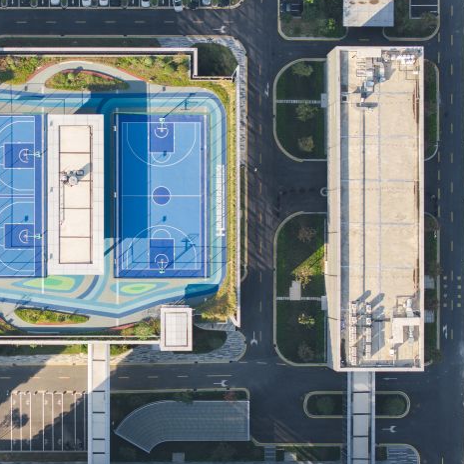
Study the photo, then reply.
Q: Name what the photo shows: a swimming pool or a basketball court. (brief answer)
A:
basketball court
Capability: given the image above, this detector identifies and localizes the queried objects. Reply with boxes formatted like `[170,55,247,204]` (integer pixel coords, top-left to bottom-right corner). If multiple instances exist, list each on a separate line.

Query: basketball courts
[0,114,48,277]
[113,112,211,278]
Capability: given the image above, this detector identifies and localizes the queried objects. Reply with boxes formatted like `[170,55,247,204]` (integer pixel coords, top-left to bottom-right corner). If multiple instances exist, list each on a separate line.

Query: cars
[189,0,198,8]
[172,0,183,12]
[51,0,60,5]
[98,0,108,6]
[111,0,120,6]
[81,0,91,7]
[20,0,30,6]
[218,0,227,6]
[201,0,210,5]
[141,0,150,7]
[277,1,302,12]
